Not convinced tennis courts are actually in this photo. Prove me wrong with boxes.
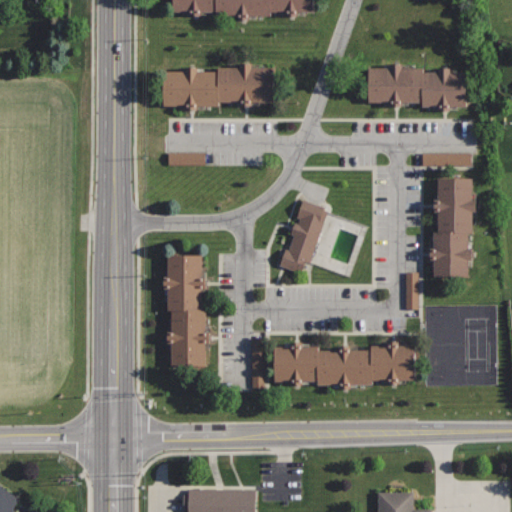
[426,306,497,386]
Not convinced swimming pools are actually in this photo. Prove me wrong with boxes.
[312,212,368,278]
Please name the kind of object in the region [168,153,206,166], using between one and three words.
building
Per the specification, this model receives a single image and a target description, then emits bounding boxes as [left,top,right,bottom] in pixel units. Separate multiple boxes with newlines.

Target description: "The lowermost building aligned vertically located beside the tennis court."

[406,274,419,310]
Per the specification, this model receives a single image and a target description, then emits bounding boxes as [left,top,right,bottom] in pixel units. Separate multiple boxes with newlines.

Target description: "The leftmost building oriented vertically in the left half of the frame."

[164,255,210,368]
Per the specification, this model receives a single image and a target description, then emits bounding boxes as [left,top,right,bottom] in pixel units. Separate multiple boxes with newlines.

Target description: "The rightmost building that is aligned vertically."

[430,178,476,277]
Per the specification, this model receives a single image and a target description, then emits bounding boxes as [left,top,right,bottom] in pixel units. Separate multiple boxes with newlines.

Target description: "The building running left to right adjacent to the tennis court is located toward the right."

[274,343,415,390]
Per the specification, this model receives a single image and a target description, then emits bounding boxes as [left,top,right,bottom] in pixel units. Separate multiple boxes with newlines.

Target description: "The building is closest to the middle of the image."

[280,200,328,272]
